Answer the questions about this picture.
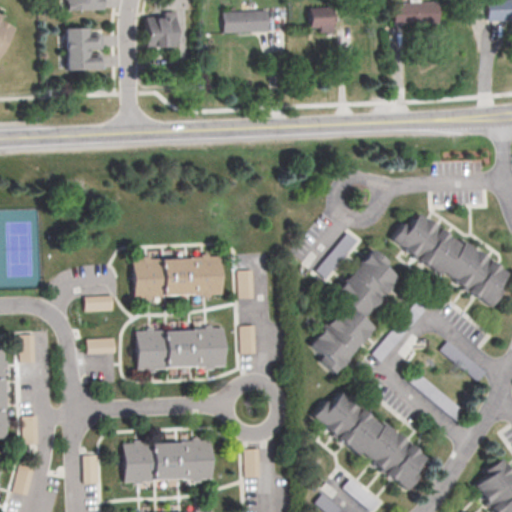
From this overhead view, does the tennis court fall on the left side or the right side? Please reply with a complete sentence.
The tennis court appears in the left half of the scene.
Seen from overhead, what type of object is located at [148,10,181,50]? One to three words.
house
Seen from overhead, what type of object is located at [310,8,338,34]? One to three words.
house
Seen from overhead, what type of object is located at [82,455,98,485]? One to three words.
building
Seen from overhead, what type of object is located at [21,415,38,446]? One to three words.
building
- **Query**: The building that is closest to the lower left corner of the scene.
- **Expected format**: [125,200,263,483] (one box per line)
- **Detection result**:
[12,466,34,496]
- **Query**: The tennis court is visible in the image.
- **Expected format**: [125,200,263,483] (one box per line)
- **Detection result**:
[0,210,39,289]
